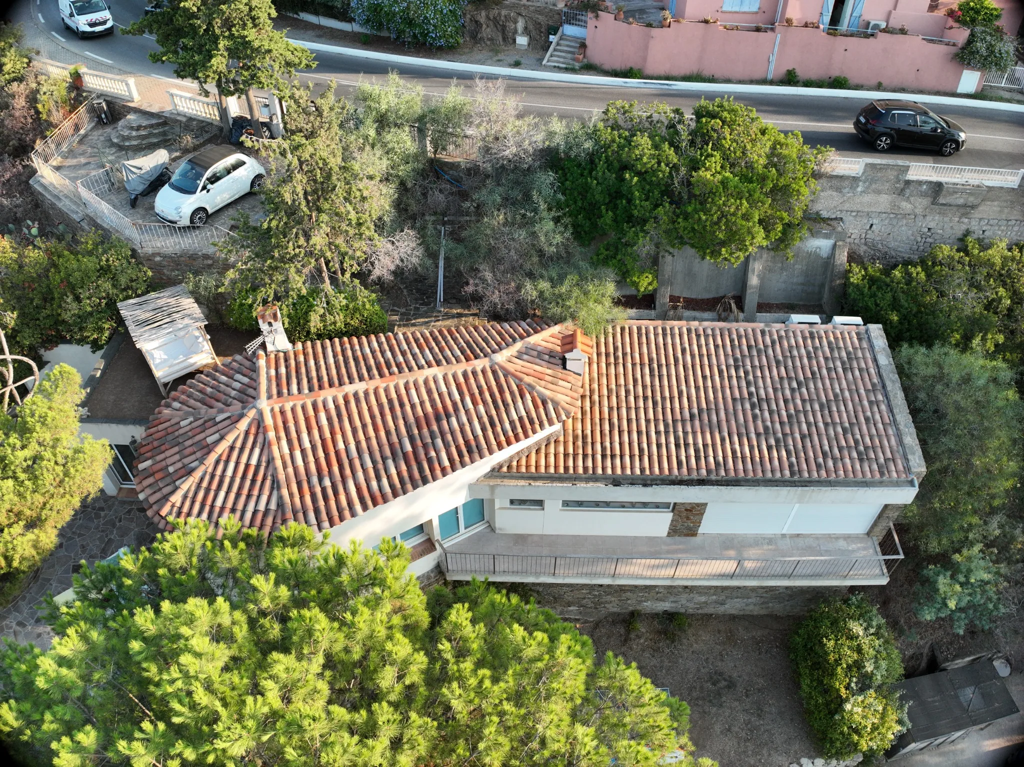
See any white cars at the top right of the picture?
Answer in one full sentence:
No, the scene shows no white car at the top right of the picture.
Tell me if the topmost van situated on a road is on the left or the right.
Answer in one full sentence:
The topmost van situated on a road sits on the left side.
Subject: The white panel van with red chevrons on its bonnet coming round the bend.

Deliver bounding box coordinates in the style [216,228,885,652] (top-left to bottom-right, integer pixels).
[62,0,120,38]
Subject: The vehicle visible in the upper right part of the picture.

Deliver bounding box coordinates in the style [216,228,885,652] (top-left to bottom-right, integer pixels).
[856,94,976,157]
